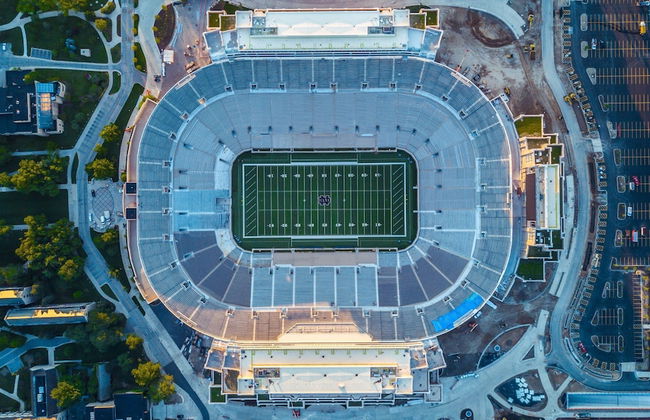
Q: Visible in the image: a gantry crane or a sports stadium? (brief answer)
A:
sports stadium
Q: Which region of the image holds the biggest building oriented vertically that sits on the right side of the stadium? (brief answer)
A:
right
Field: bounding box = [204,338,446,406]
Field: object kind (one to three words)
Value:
building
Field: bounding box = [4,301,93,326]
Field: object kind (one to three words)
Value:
building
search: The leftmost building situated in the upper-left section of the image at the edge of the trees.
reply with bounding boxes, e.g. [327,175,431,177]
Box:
[0,71,43,133]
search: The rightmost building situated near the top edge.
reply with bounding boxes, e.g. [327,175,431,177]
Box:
[204,8,442,64]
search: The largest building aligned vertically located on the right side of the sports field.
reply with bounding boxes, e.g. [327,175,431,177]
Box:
[512,115,566,282]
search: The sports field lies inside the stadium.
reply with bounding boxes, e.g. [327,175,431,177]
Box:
[233,151,416,250]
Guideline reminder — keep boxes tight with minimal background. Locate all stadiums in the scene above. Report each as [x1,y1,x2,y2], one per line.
[135,56,514,343]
